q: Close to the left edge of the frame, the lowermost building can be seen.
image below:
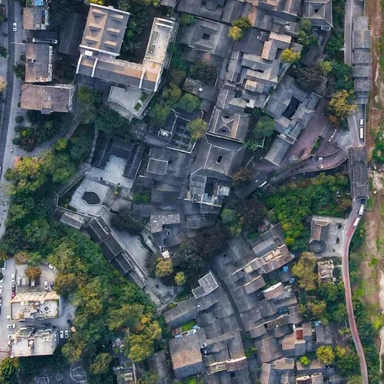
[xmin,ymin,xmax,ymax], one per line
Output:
[12,327,62,356]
